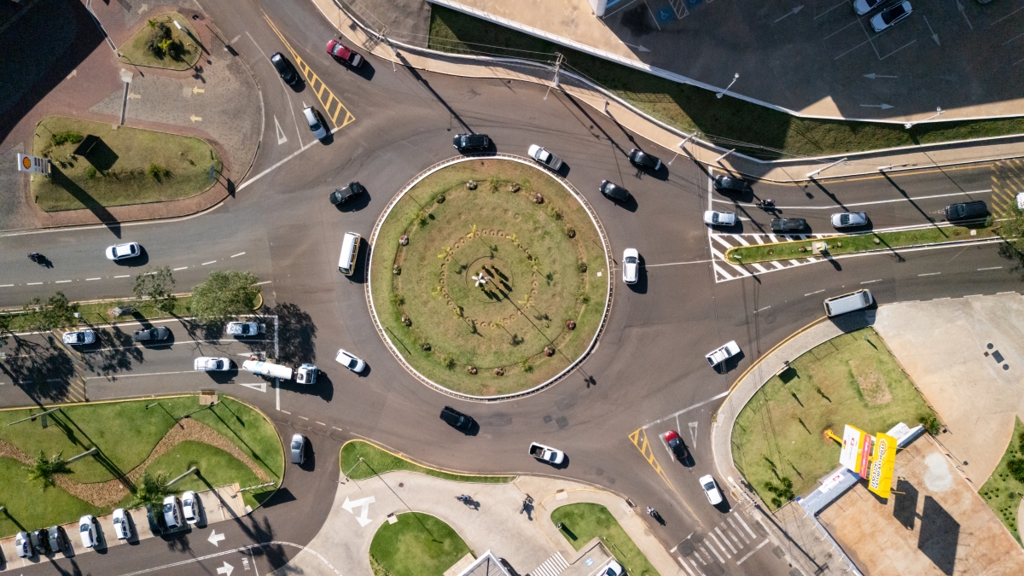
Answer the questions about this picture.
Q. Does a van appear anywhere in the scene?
Yes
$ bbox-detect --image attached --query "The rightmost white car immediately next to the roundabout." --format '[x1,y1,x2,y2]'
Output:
[621,248,640,284]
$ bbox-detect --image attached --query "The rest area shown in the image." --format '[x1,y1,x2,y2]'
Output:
[0,0,265,232]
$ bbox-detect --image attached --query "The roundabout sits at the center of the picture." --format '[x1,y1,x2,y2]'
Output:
[366,153,615,402]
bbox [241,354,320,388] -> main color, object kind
white truck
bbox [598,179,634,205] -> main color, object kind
black car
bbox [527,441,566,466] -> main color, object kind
white vehicle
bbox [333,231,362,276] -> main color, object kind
white vehicle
